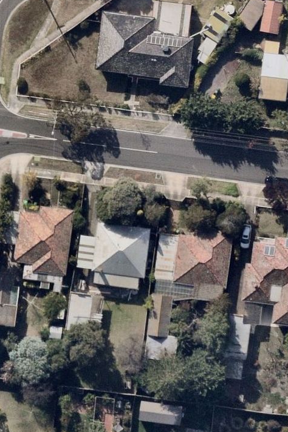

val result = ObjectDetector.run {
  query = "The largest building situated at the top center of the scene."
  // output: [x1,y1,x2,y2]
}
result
[96,2,194,89]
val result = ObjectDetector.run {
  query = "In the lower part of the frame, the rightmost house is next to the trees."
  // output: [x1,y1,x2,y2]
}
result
[224,236,288,380]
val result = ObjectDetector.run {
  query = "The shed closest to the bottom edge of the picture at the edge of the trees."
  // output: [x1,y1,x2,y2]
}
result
[139,400,183,425]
